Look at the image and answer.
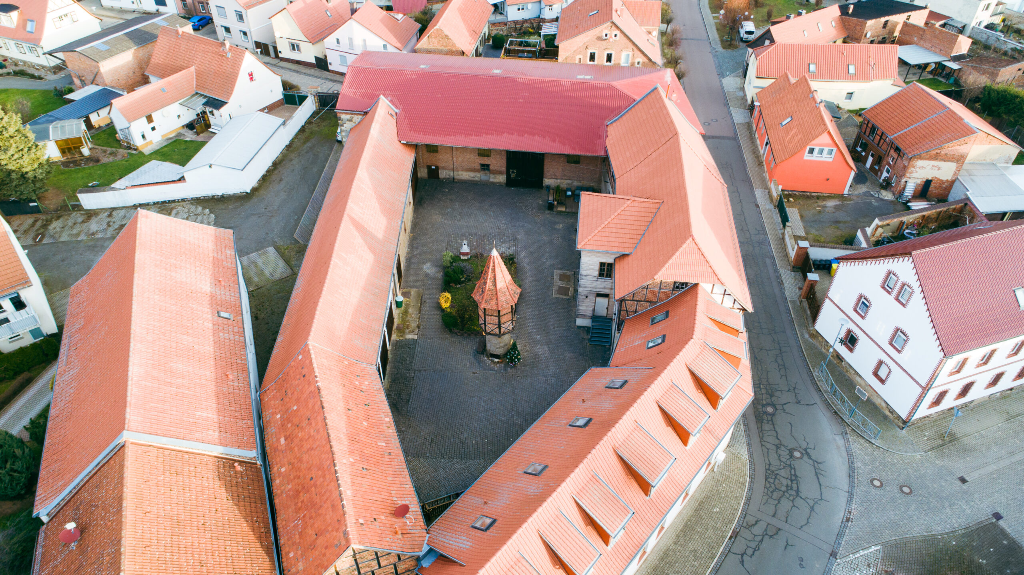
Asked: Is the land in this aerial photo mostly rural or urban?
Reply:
urban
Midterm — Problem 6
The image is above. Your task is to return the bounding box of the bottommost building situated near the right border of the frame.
[810,216,1024,428]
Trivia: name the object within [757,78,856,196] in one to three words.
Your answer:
house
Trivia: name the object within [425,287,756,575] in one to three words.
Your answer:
building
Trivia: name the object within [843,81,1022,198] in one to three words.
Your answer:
house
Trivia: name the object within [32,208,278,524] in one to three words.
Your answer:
building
